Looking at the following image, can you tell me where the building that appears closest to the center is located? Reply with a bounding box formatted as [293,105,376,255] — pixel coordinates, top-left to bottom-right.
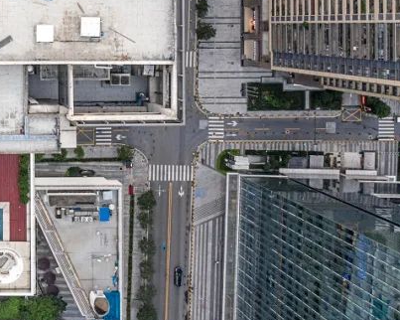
[228,155,267,172]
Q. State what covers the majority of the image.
buildings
